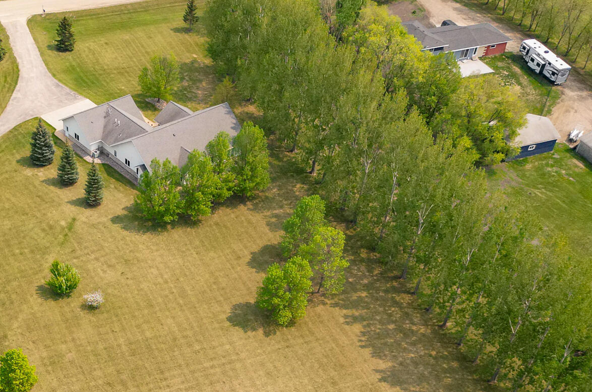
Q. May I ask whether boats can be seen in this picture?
No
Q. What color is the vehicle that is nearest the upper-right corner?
white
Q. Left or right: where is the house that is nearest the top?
right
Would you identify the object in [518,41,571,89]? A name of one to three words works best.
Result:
vehicle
